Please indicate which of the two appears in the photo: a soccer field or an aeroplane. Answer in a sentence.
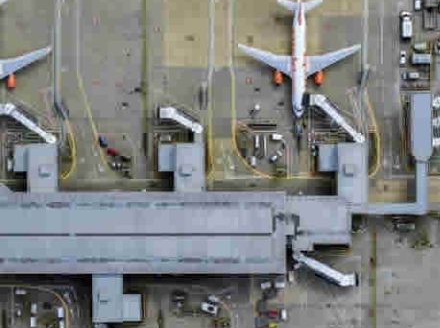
The one in the frame is an aeroplane.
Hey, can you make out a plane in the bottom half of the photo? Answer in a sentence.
No, I can find no plane in the bottom half of the photo.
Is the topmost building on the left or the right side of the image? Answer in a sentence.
The topmost building sits on the right side.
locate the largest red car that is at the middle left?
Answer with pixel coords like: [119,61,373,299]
[103,146,119,158]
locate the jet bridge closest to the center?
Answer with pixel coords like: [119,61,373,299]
[157,107,205,143]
